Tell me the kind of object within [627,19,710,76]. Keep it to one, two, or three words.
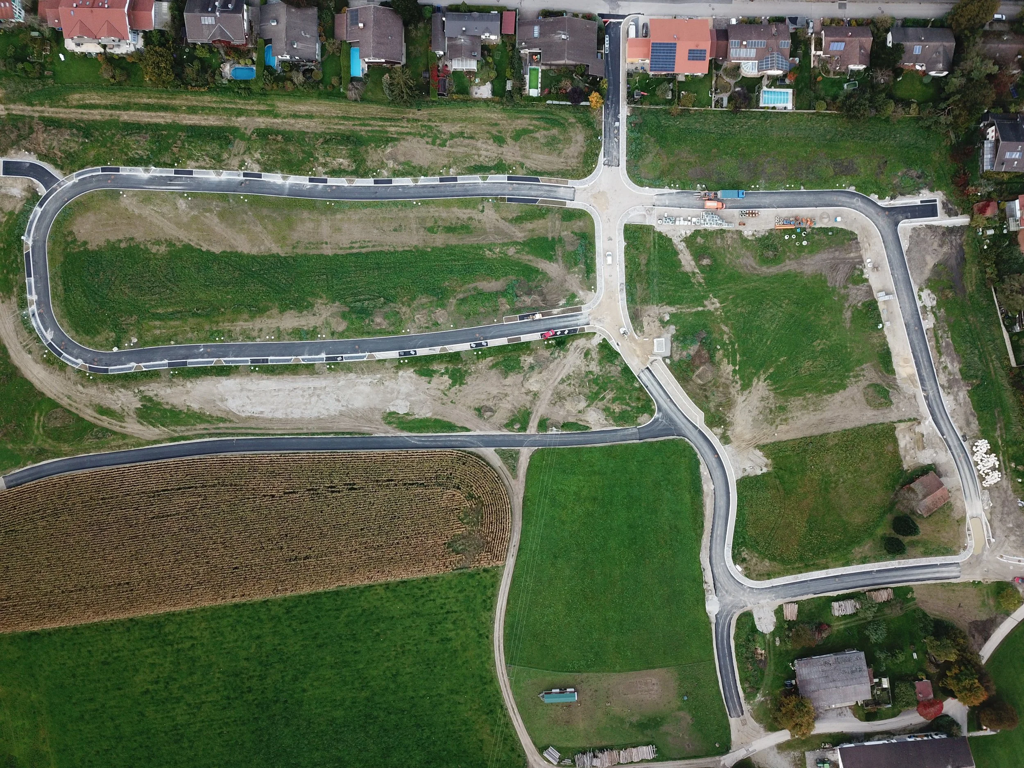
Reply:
house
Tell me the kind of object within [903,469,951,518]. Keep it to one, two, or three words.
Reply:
barn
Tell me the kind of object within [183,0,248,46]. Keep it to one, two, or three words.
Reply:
house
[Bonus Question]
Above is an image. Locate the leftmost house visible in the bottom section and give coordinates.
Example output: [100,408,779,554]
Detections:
[793,648,873,711]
